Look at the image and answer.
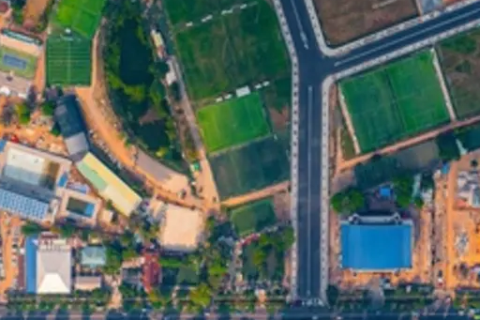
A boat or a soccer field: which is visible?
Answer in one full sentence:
The one in the frame is a soccer field.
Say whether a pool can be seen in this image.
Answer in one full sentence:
Yes, a pool appears in the view.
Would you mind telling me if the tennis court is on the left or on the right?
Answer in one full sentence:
The tennis court sits on the left side.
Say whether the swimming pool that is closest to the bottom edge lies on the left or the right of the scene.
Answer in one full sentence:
It is on the left.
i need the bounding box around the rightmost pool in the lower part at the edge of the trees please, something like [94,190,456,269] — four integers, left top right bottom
[56,188,100,226]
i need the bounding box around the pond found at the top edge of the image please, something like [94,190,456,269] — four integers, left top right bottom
[116,13,154,83]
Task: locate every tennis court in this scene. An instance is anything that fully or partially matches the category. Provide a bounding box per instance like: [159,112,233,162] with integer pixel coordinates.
[0,50,36,80]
